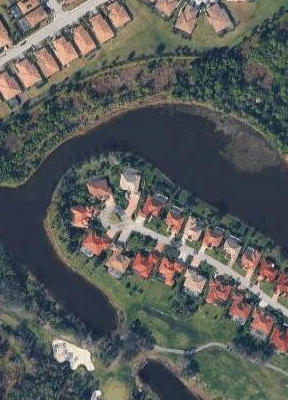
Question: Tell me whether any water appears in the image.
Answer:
Yes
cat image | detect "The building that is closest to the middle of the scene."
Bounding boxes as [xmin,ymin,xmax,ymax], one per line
[140,192,164,216]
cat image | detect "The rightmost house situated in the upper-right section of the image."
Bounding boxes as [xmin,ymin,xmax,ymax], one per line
[207,6,233,32]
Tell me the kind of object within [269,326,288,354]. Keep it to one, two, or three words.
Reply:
house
